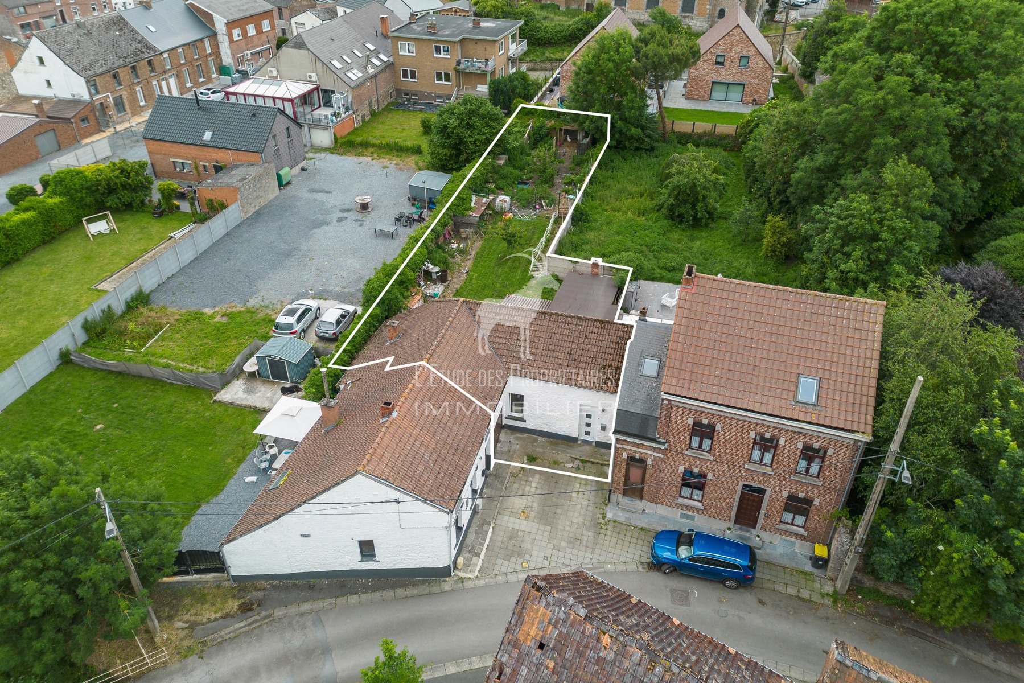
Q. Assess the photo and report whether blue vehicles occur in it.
Yes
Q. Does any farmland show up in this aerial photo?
No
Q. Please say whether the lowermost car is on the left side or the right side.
right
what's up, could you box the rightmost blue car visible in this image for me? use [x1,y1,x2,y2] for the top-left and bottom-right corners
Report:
[650,523,759,586]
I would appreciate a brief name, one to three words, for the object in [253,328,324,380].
shed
